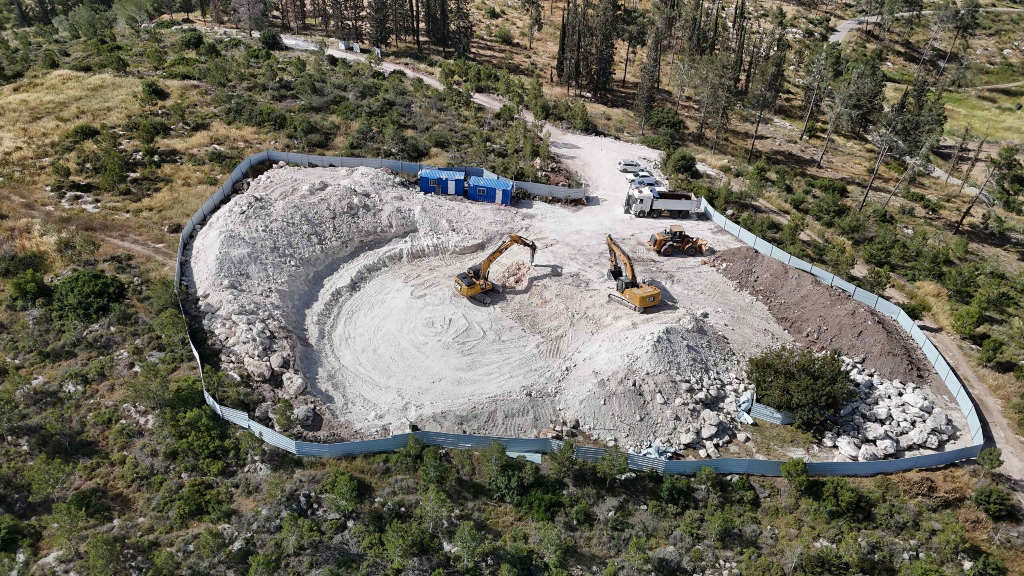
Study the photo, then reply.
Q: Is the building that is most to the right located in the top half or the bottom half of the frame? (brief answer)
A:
top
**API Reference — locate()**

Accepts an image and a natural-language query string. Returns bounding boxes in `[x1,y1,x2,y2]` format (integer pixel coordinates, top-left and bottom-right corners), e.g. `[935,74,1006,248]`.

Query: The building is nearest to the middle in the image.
[466,175,516,207]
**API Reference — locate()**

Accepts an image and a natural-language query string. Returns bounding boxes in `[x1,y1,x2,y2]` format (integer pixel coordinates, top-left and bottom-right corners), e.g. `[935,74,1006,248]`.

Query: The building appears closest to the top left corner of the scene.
[417,168,467,197]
